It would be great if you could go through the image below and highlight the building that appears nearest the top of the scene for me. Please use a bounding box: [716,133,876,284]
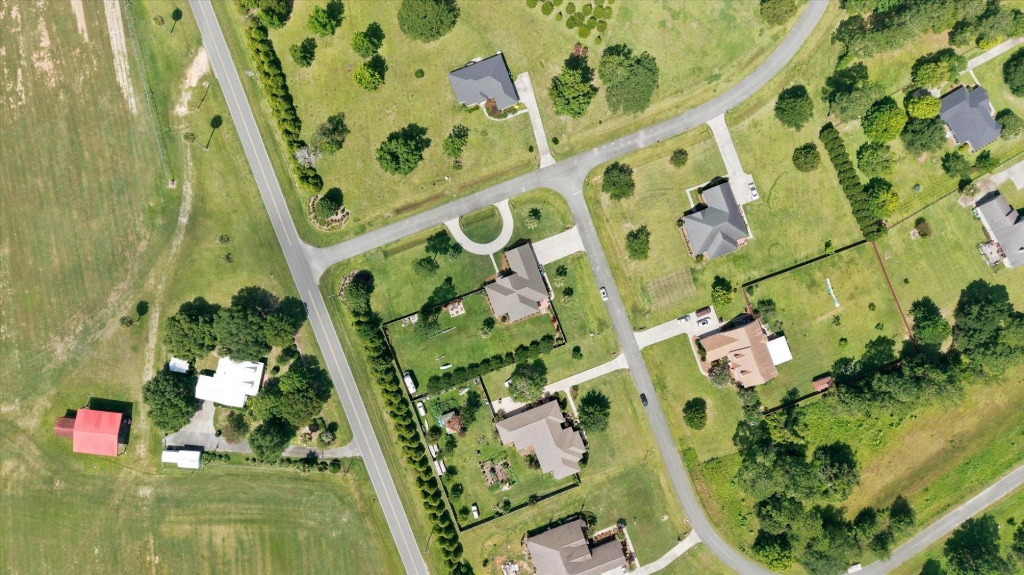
[449,53,518,110]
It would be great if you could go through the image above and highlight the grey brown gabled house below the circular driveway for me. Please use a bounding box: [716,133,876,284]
[485,243,548,322]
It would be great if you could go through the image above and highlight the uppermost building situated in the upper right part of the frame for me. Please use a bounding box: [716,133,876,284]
[936,86,998,151]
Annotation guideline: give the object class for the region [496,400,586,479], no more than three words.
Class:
house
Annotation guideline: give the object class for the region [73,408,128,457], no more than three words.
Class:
barn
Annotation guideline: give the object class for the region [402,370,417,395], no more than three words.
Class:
vehicle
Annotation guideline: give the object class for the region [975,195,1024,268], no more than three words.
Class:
house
